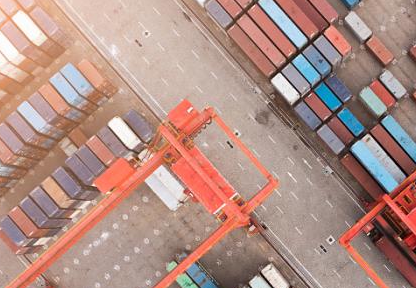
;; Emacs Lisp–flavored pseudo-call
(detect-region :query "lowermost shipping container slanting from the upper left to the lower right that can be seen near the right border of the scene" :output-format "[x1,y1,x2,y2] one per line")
[374,237,416,288]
